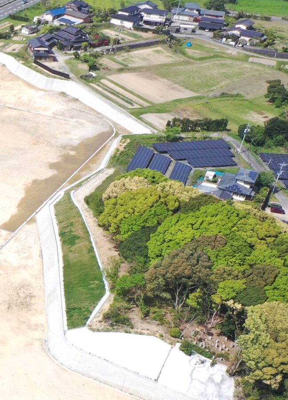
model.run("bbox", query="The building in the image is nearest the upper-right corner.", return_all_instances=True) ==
[226,19,266,41]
